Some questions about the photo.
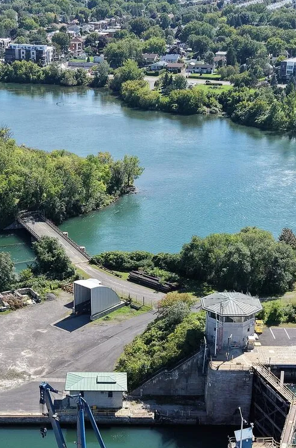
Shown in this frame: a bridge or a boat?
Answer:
bridge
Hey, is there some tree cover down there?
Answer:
Yes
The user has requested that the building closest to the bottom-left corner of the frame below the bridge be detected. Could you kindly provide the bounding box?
[62,373,128,409]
